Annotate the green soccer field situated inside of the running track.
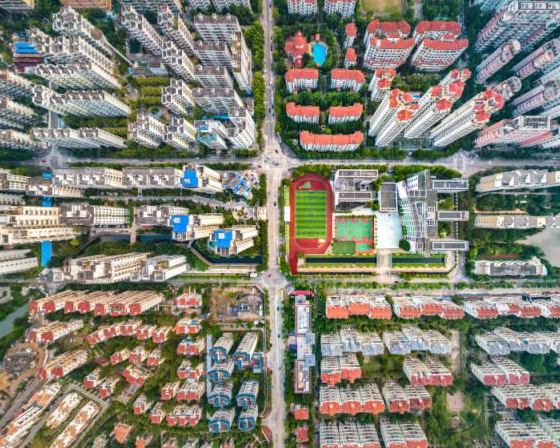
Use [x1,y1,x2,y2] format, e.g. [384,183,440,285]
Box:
[296,190,326,238]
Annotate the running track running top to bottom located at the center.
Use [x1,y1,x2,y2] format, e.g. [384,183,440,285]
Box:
[290,174,334,274]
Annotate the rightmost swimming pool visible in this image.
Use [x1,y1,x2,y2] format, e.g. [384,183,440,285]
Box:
[309,41,329,65]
